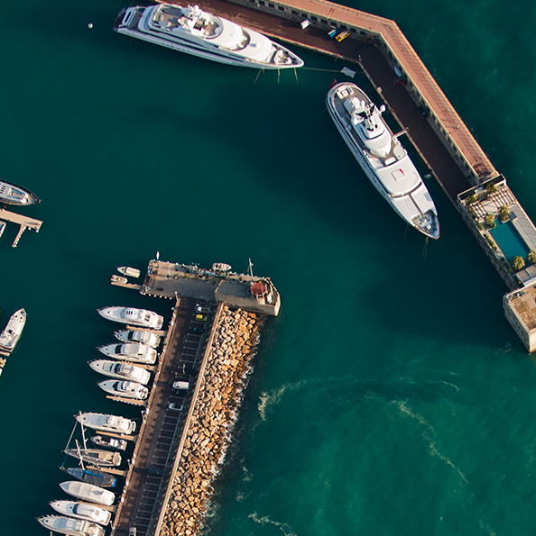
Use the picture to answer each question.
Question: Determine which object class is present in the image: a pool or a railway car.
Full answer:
Of the two, only a pool appears.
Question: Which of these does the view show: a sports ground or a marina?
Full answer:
The area seen from above is a marina.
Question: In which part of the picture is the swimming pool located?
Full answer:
The swimming pool is in the right part of the image.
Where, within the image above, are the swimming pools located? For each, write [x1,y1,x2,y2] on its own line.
[490,220,531,269]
